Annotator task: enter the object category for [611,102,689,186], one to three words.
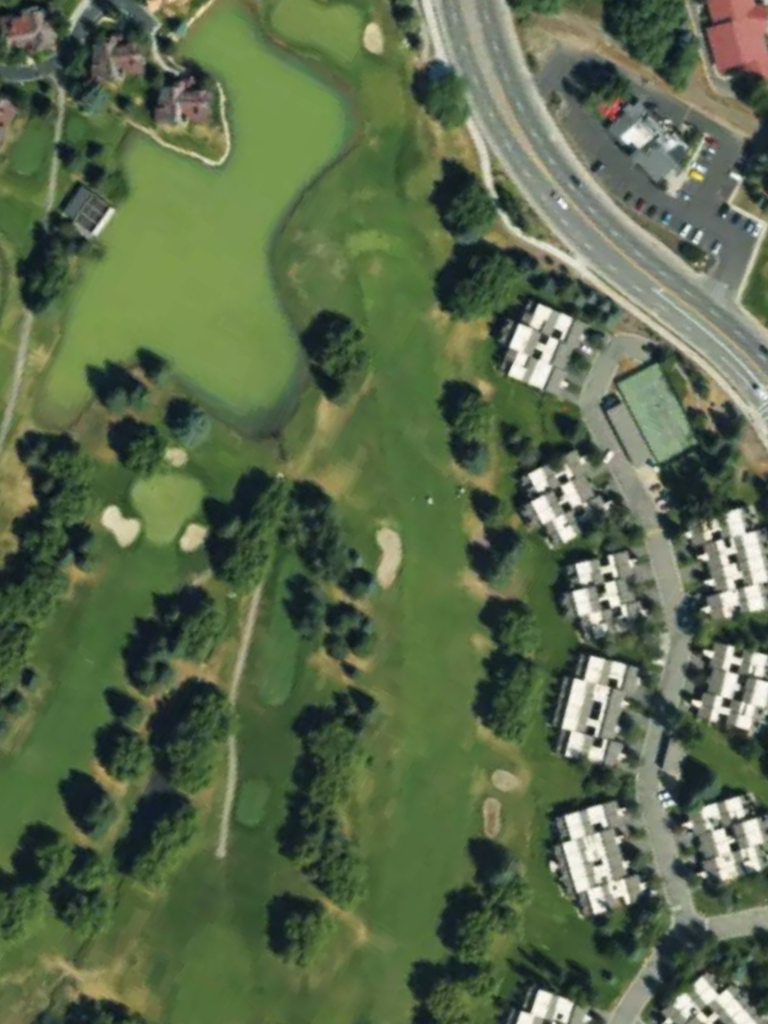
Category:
building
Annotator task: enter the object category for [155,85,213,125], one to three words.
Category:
house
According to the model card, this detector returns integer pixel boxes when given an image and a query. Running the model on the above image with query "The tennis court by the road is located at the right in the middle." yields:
[618,364,697,464]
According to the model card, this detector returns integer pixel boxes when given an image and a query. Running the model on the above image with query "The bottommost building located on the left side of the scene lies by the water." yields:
[63,184,116,234]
